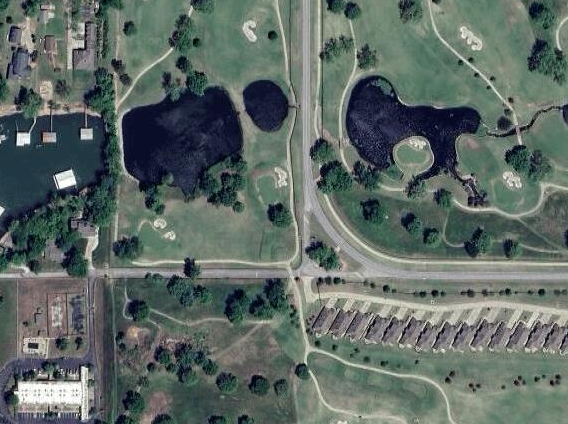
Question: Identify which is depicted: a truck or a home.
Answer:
home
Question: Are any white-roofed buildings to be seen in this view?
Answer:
Yes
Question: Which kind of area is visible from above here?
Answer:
golf course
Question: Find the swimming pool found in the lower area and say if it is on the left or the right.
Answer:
left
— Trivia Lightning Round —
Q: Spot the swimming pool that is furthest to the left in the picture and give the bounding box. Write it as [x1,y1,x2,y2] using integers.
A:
[23,338,49,358]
